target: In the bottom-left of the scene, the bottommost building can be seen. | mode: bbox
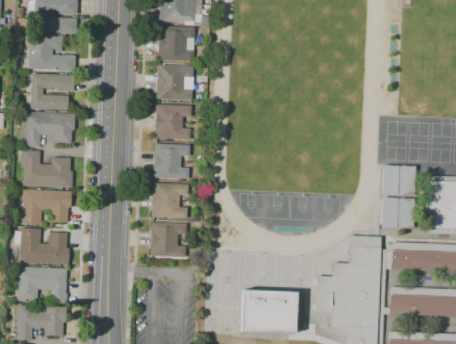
[18,306,67,340]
